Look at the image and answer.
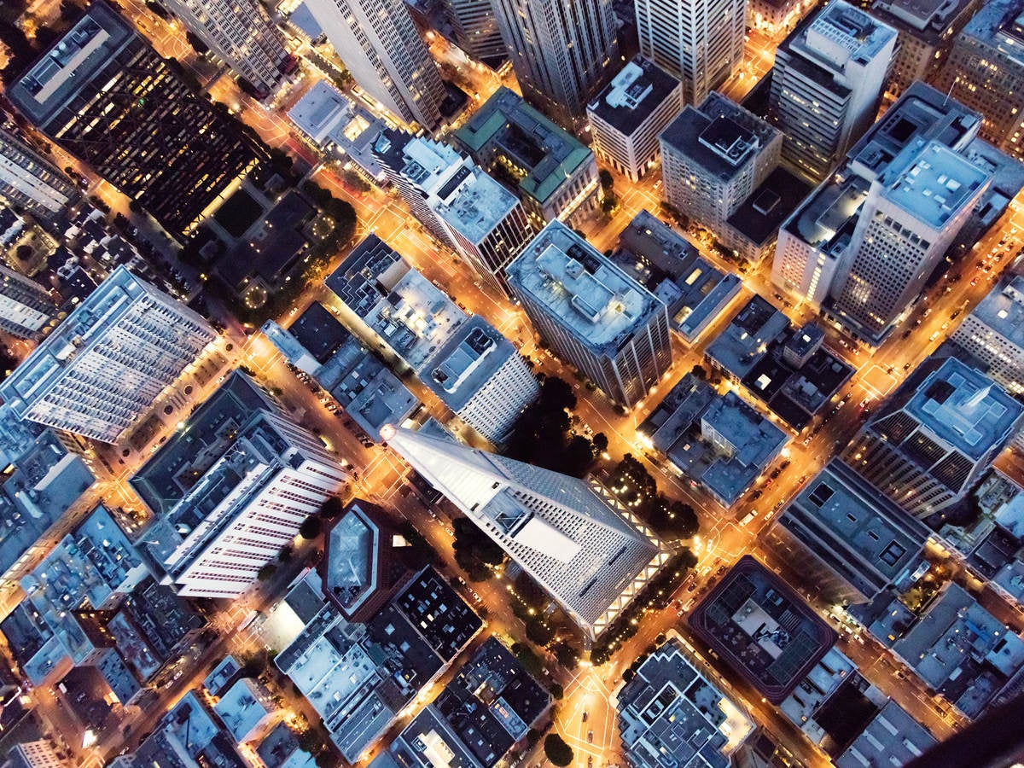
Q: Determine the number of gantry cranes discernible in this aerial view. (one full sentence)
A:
The photo contains no gantry cranes.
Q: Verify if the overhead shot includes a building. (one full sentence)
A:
Yes, I can see a building in this picture.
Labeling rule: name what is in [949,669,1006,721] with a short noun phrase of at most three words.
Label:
building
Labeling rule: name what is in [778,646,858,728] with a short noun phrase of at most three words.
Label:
building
